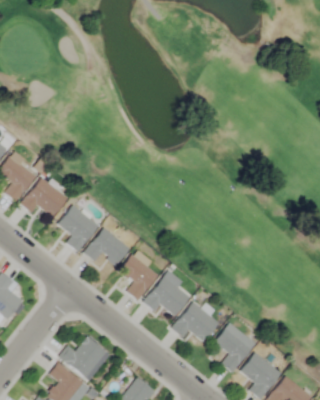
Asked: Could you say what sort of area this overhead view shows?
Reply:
golf course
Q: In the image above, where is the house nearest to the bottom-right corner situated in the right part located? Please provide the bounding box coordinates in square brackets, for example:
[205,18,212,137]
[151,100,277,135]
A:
[265,376,311,400]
